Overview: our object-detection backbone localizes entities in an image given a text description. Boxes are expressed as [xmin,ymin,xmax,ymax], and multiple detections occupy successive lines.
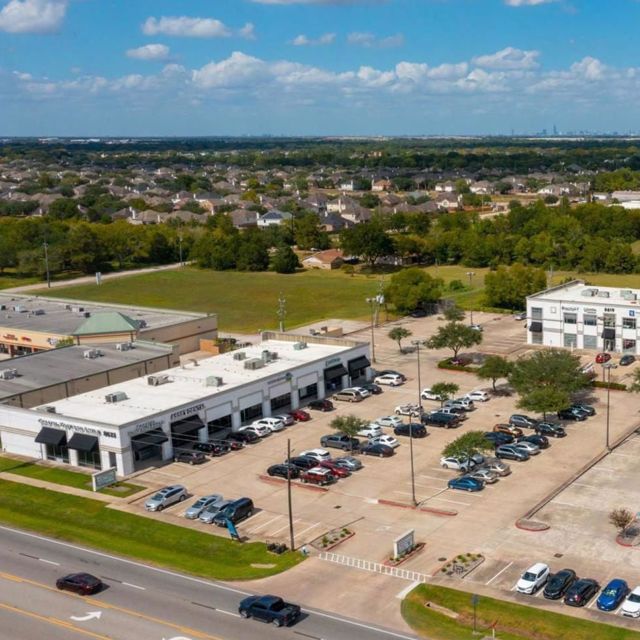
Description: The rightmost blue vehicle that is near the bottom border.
[592,578,627,611]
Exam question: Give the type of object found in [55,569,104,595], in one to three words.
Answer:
car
